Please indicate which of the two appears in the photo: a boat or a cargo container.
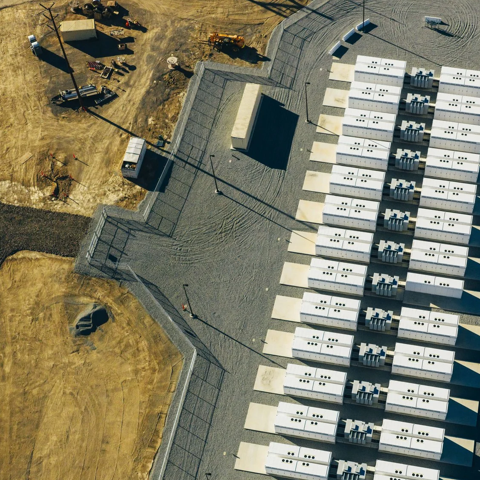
cargo container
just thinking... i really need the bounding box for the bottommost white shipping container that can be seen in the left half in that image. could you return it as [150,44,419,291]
[121,137,148,179]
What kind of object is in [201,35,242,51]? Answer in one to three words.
work vehicle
